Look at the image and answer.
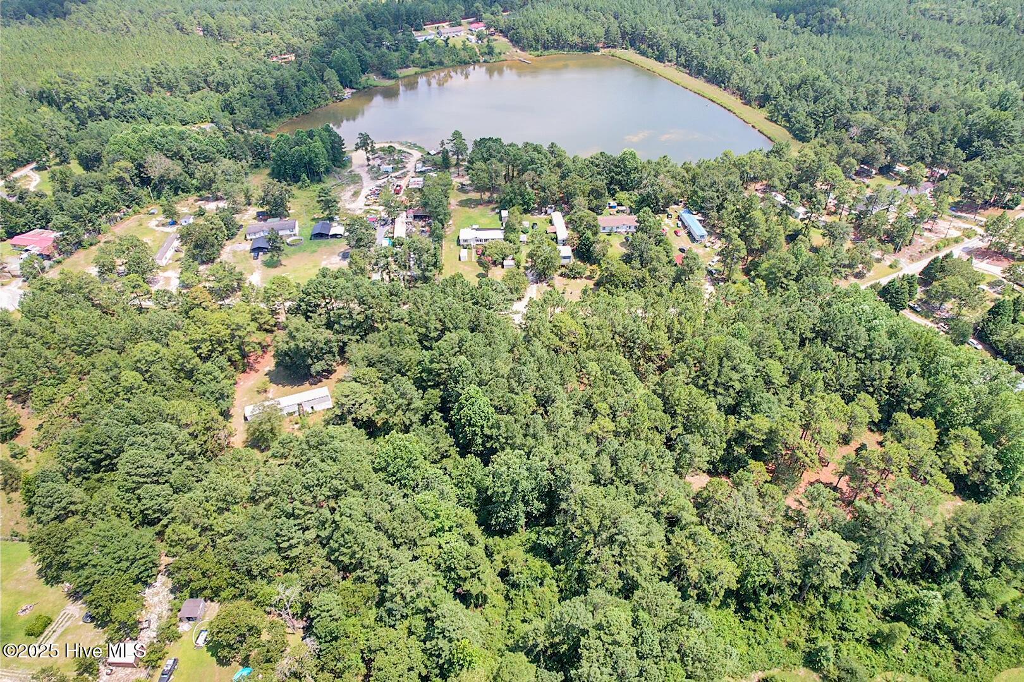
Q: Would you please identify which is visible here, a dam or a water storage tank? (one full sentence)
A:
I can see a dam in this picture.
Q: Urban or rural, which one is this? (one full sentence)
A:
This place is rural.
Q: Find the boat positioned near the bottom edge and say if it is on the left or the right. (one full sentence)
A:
The boat positioned near the bottom edge sits on the left side.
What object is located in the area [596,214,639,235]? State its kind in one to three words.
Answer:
house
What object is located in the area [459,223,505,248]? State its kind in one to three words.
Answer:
house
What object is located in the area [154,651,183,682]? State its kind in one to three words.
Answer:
truck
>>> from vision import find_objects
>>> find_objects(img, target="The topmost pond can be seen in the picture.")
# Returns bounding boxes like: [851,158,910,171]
[274,53,773,174]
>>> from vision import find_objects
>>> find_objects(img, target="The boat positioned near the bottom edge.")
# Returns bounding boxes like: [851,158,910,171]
[187,620,207,652]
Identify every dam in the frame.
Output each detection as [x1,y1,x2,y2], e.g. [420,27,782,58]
[605,45,806,157]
